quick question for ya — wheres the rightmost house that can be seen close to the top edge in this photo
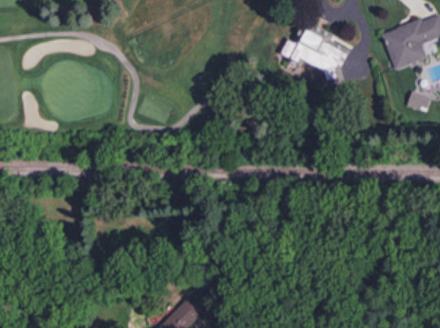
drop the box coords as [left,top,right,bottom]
[384,14,440,68]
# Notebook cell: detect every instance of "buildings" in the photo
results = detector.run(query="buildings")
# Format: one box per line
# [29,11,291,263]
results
[410,92,430,112]
[162,298,202,328]
[384,14,440,68]
[282,30,350,78]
